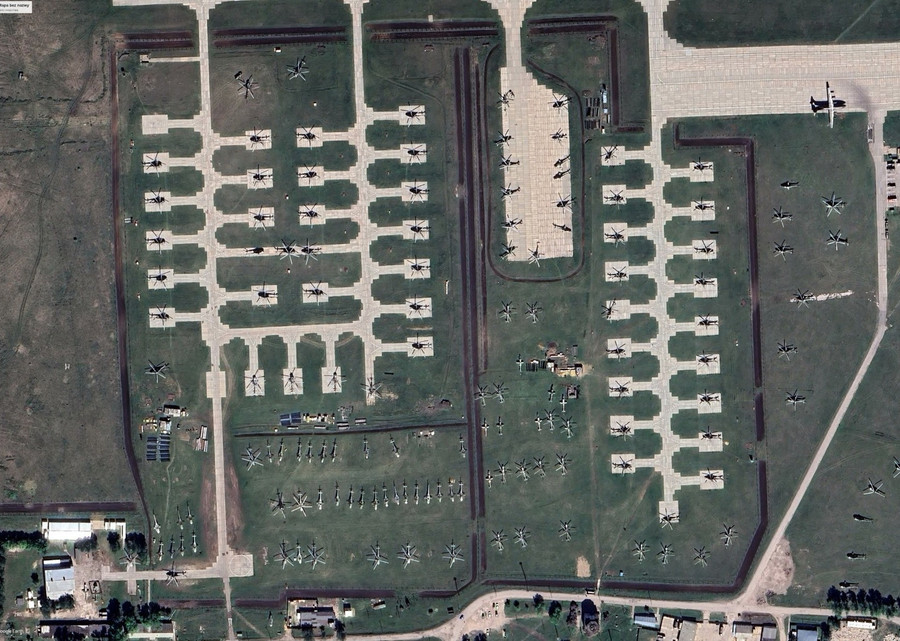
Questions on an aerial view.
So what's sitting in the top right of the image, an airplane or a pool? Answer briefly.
airplane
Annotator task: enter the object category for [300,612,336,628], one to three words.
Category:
house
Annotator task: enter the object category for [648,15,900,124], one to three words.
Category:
runway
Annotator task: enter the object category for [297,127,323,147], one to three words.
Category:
helipad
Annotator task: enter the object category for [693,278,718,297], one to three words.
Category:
helipad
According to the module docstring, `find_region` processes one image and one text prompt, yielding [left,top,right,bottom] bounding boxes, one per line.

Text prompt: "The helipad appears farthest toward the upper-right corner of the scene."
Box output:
[690,162,714,181]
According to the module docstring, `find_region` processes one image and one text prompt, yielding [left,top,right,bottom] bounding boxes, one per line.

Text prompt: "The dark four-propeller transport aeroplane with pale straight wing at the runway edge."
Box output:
[814,88,846,128]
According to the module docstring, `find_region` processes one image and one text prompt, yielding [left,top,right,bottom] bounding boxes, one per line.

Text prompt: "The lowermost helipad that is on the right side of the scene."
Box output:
[659,501,679,523]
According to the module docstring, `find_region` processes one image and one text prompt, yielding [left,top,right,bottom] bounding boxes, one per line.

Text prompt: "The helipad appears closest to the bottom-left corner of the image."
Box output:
[227,555,253,578]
